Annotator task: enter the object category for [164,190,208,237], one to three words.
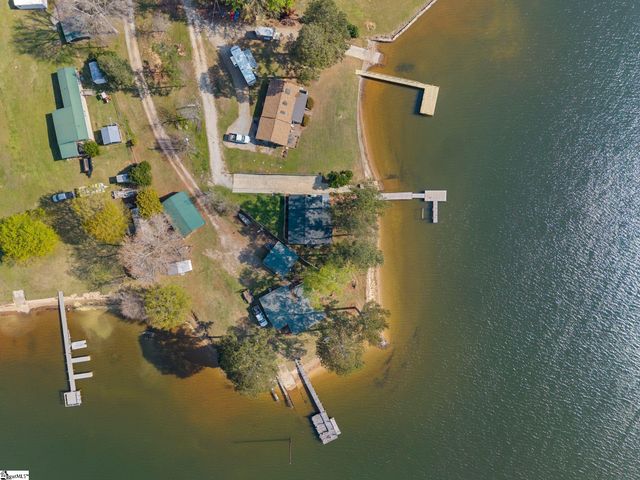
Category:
barn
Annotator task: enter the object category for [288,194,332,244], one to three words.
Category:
house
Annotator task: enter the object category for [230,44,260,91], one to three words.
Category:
camper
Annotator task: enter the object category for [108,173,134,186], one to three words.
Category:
vehicle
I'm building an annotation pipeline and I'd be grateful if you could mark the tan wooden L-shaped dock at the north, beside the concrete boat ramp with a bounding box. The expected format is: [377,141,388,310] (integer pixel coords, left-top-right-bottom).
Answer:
[356,68,439,117]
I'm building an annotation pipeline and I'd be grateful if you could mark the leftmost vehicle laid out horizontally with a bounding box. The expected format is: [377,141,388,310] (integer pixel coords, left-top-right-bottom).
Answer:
[51,191,78,204]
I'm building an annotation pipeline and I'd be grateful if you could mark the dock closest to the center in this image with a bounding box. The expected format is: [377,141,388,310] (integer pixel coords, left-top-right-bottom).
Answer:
[380,189,447,222]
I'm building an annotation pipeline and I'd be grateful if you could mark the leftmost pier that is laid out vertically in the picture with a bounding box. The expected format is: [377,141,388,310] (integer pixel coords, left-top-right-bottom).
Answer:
[56,291,94,408]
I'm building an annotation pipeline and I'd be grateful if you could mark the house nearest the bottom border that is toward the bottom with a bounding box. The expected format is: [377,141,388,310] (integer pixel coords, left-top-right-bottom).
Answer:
[261,283,326,334]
